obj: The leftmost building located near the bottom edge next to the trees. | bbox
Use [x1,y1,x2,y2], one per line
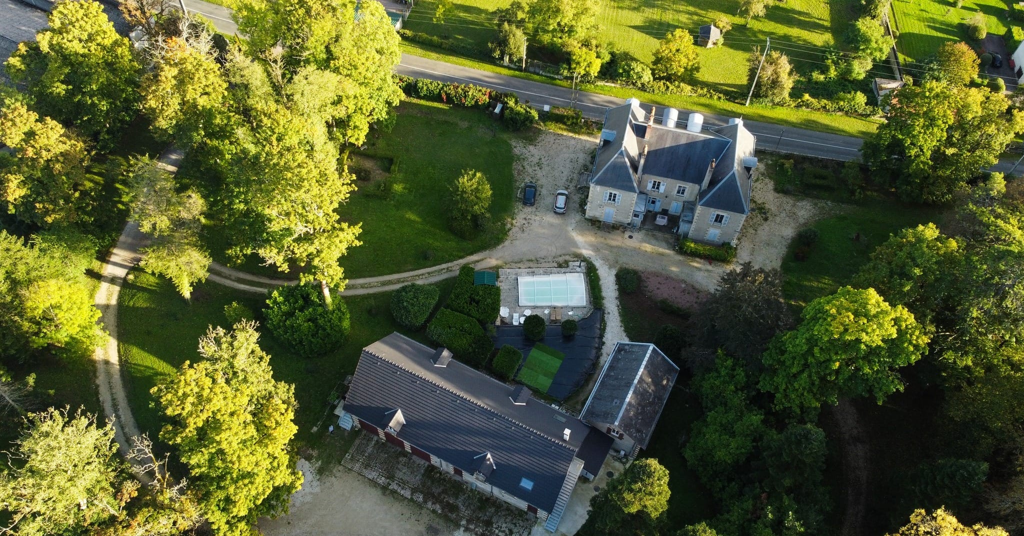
[334,331,593,535]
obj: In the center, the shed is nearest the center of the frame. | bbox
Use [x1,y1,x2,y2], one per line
[474,264,496,286]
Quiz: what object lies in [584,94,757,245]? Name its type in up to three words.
house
